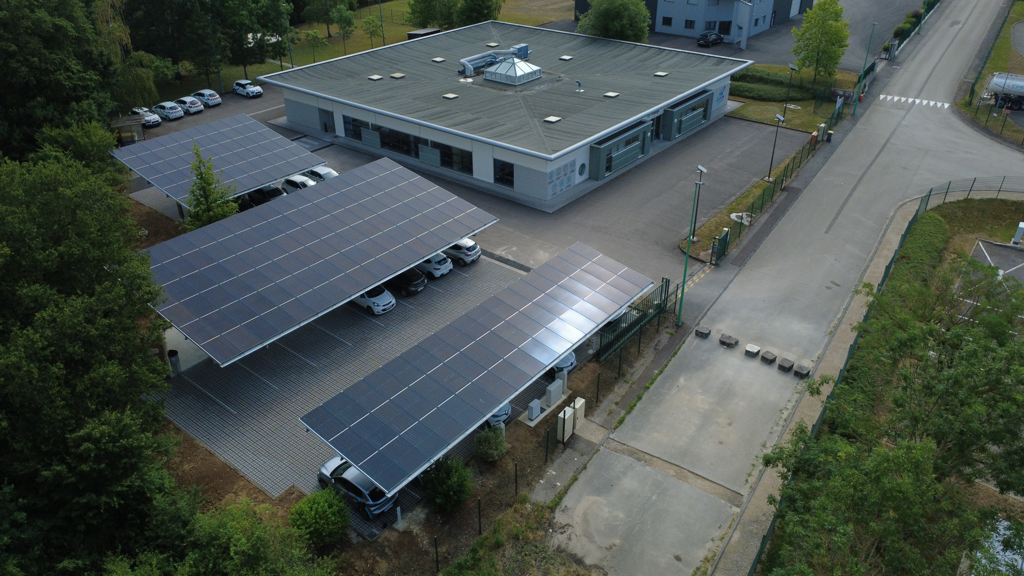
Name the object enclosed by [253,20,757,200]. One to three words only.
building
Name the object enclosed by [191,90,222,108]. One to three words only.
car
